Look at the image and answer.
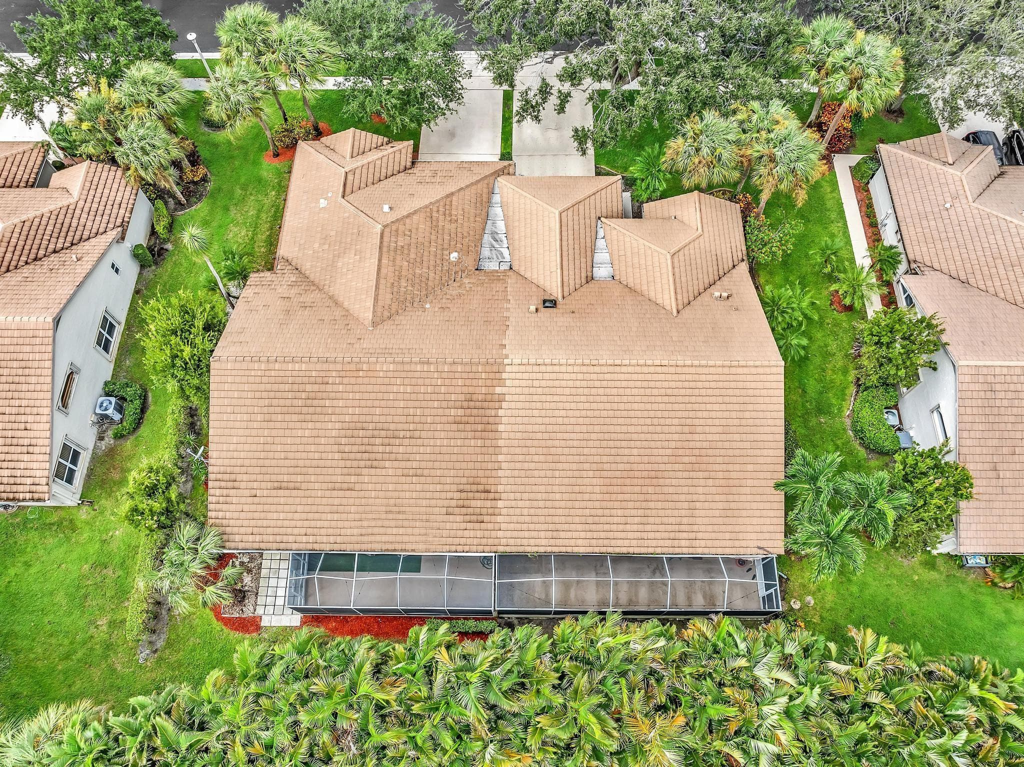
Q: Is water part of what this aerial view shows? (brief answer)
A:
No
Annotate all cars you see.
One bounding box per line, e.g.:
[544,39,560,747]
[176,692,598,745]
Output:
[1006,136,1024,161]
[961,131,1008,161]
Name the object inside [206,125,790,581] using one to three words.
house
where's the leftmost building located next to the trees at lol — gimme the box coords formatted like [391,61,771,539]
[0,142,155,512]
